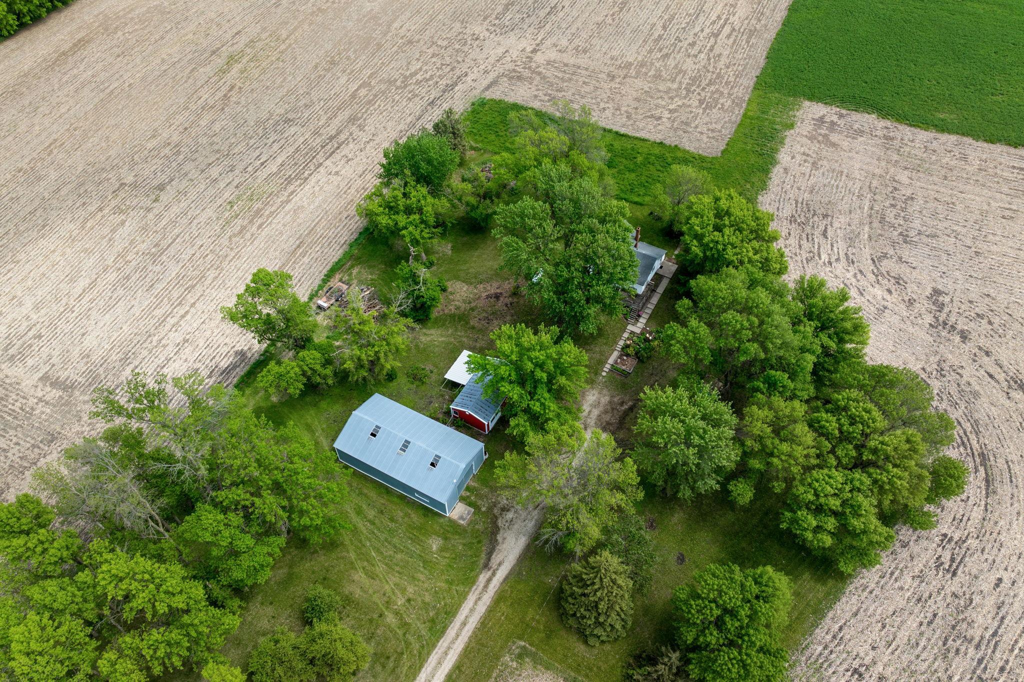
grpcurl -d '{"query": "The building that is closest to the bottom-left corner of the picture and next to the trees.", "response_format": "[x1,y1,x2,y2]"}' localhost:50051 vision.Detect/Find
[332,393,485,516]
